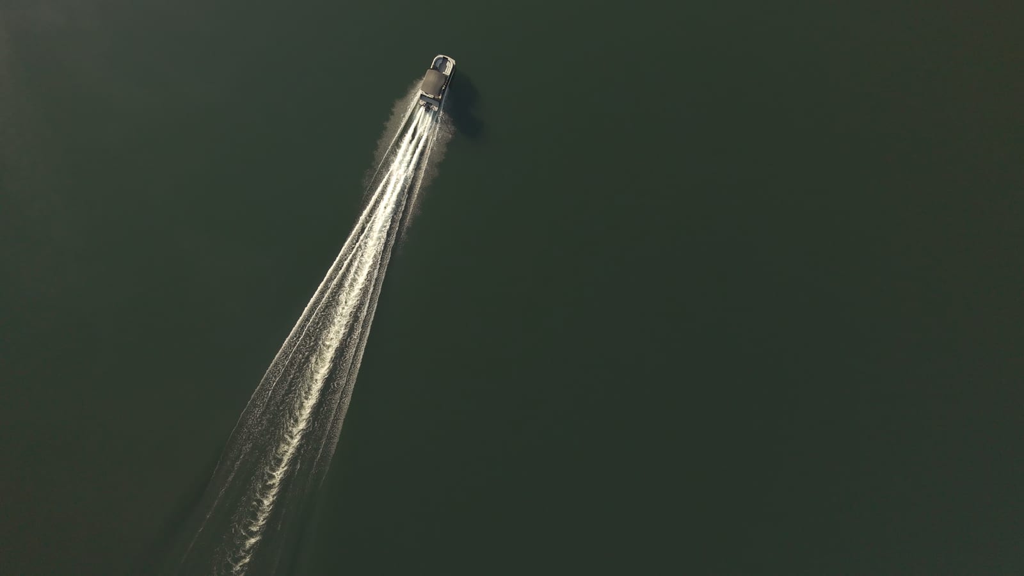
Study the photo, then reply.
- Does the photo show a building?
No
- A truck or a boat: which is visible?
boat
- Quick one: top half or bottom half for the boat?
top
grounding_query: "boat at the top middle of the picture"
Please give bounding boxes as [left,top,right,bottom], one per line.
[420,54,455,112]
